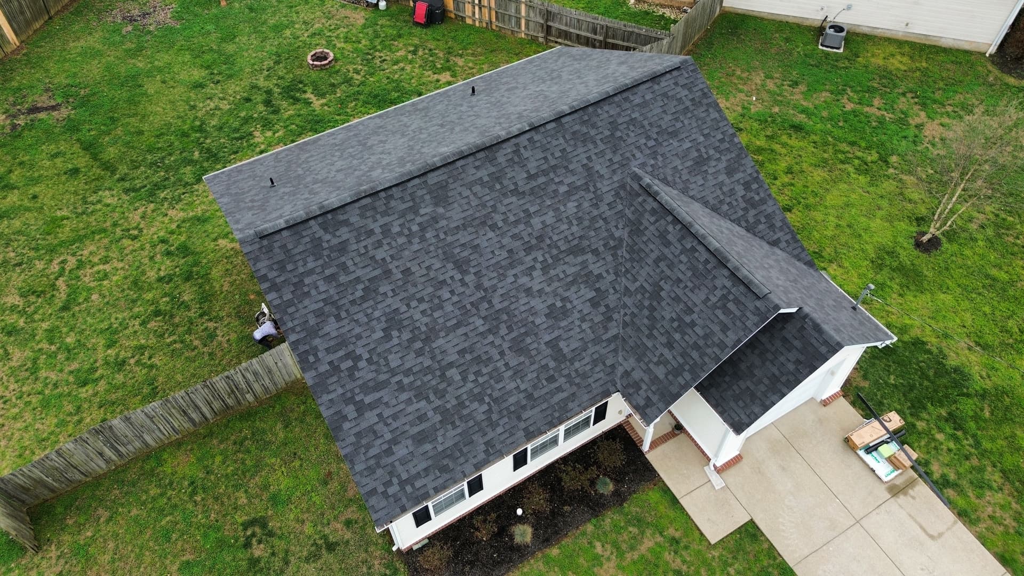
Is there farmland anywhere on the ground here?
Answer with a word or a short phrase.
No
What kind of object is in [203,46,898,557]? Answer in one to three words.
house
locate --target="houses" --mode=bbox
[203,46,898,557]
[722,0,1024,53]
